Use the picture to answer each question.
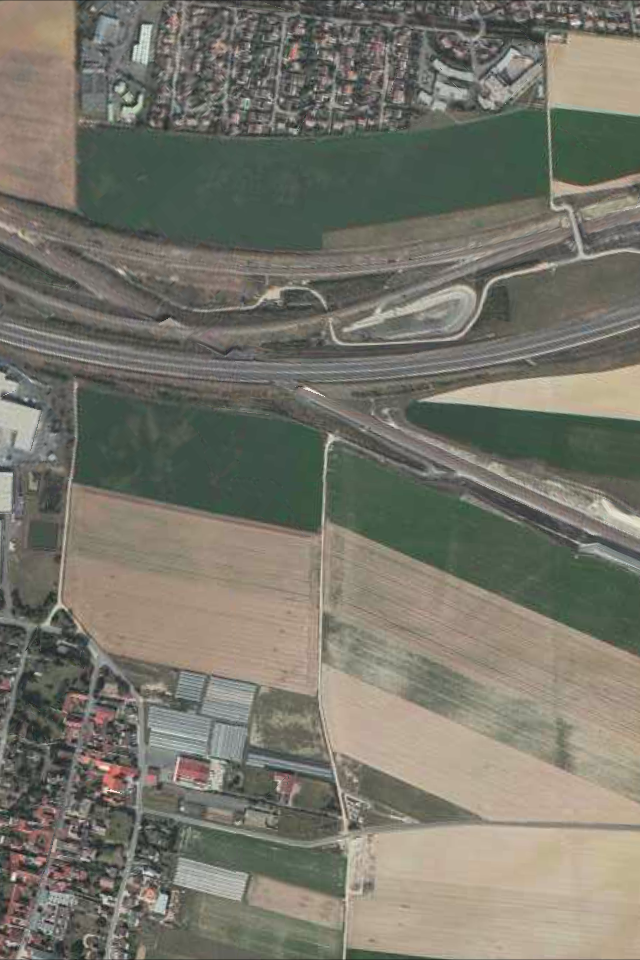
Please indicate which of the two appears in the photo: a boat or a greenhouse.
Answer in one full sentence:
The image shows a greenhouse.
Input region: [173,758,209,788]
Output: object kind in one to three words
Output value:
building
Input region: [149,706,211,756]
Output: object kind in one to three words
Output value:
greenhouse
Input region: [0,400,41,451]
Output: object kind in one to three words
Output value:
building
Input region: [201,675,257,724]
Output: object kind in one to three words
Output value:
greenhouse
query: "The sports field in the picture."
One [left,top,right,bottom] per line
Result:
[30,522,58,550]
